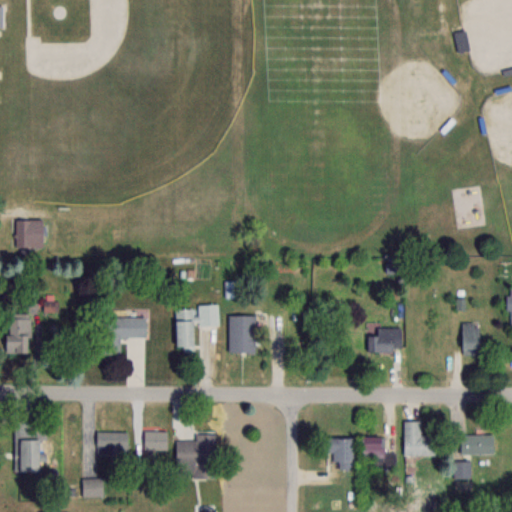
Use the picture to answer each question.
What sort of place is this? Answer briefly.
sports ground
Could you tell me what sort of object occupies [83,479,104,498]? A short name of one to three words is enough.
building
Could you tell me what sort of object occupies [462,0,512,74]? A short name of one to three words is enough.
baseball field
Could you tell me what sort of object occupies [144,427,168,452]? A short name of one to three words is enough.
house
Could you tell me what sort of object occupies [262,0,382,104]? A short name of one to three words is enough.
sports field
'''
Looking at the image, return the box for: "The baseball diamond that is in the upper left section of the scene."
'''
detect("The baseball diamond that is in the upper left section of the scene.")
[0,0,254,206]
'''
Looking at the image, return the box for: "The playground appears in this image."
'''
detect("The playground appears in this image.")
[452,186,486,230]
